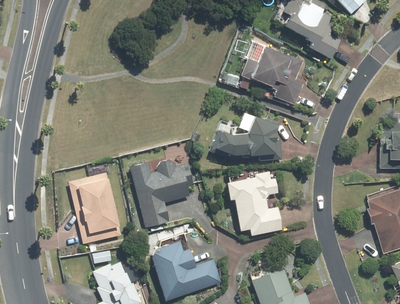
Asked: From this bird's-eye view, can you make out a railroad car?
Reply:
No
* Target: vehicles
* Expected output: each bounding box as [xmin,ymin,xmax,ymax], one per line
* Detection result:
[6,205,15,222]
[300,98,316,109]
[362,243,378,258]
[346,68,358,83]
[316,195,324,211]
[334,52,350,66]
[64,216,77,232]
[335,84,348,102]
[279,124,290,142]
[194,252,210,264]
[66,237,80,246]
